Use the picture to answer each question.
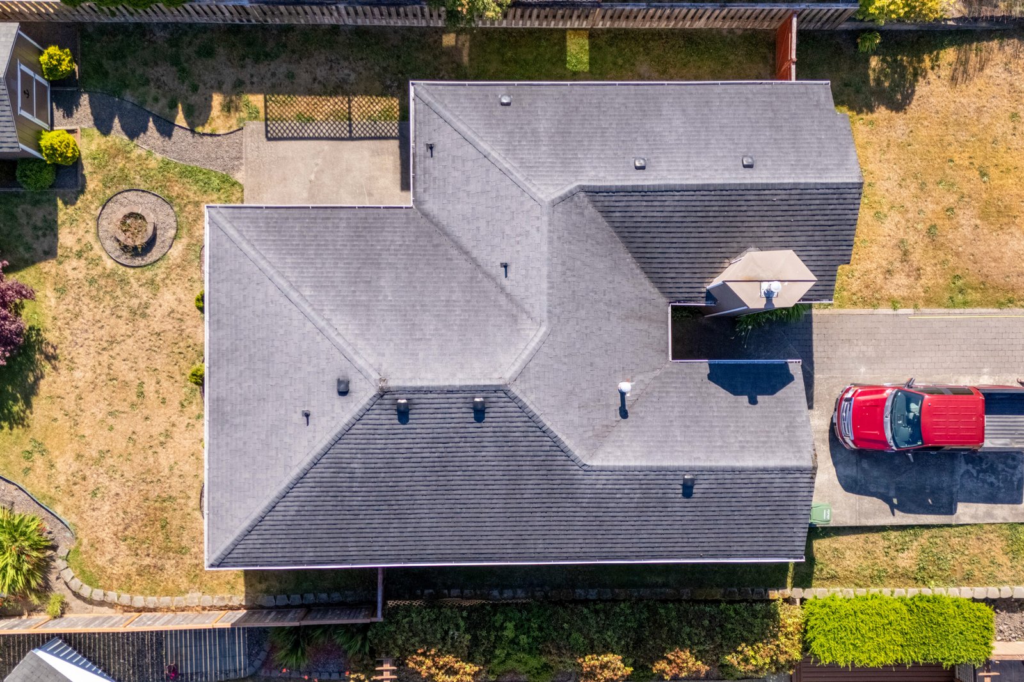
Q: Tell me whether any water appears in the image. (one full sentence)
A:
No, no water is visible.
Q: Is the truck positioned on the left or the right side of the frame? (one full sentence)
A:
The truck appears in the right half of the scene.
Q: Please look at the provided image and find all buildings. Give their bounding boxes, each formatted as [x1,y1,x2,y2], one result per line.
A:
[0,22,51,158]
[2,638,115,682]
[205,79,862,570]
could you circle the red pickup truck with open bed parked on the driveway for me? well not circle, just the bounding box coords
[830,379,1024,459]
